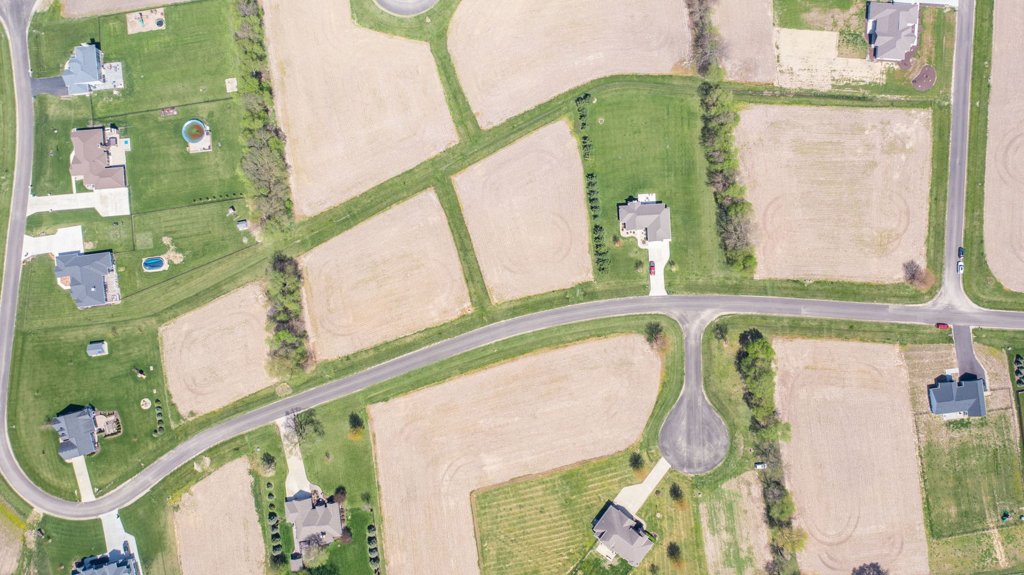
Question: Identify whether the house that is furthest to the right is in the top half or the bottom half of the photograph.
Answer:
bottom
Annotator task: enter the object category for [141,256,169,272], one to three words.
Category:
swimming pool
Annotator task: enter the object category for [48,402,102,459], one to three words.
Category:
house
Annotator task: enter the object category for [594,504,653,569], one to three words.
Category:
house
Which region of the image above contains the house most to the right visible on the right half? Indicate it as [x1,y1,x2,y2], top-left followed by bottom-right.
[927,380,986,416]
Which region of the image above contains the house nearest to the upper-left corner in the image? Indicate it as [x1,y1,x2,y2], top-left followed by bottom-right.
[63,41,105,95]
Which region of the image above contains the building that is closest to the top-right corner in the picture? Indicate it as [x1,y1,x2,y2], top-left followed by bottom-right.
[867,0,919,61]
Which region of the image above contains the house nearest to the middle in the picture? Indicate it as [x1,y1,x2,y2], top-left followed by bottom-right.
[618,202,671,242]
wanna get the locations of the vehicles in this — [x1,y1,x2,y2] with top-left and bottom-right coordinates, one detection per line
[650,261,656,275]
[959,247,966,258]
[958,262,965,274]
[754,463,767,469]
[123,542,131,558]
[936,323,949,329]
